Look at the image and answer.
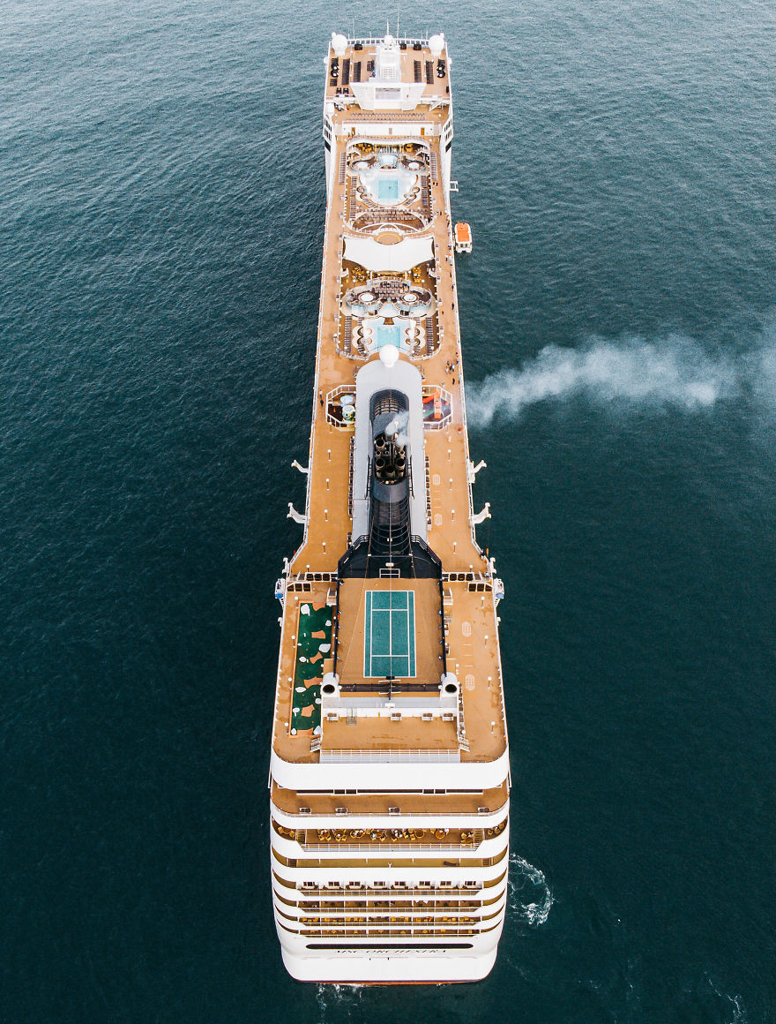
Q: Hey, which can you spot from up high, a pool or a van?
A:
pool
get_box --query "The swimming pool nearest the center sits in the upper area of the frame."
[376,322,403,354]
